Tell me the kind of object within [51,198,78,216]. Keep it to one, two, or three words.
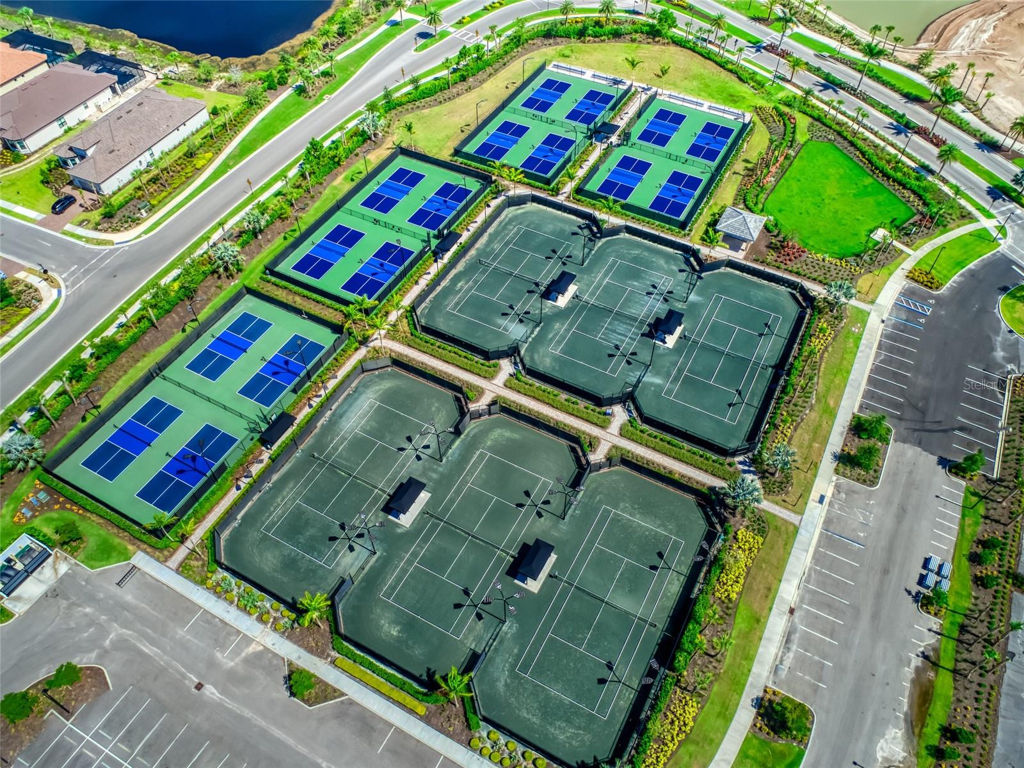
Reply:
car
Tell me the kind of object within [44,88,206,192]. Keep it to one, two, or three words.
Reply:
house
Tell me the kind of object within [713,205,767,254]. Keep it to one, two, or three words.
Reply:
gazebo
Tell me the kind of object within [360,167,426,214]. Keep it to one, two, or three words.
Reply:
sports court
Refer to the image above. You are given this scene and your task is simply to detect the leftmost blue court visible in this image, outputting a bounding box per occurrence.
[80,395,183,481]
